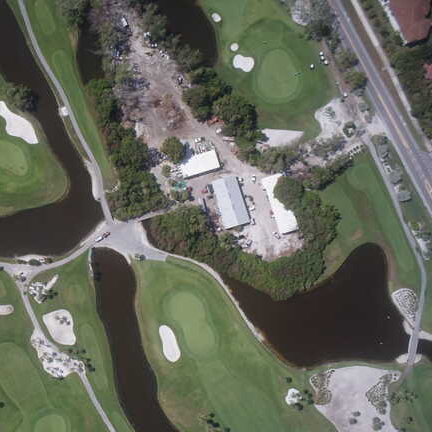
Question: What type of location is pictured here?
golf course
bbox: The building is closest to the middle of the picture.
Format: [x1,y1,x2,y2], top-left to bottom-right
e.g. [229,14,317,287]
[212,176,250,229]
